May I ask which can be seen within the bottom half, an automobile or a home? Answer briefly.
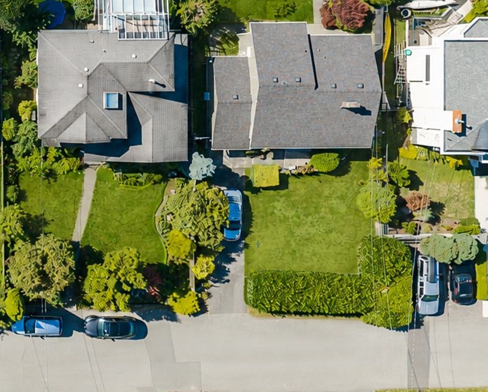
automobile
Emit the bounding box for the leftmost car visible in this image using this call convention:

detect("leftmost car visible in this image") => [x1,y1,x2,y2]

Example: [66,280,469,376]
[9,312,65,339]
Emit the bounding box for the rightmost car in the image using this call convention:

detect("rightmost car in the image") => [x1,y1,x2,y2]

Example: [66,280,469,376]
[446,260,477,314]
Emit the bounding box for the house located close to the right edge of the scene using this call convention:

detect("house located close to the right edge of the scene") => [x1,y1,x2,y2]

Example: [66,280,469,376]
[381,19,488,155]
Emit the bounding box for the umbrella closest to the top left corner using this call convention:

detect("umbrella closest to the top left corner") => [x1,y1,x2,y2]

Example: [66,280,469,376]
[36,0,65,29]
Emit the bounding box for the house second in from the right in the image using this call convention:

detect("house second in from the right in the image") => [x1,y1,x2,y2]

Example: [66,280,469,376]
[204,22,383,150]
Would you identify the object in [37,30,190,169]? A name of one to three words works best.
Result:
house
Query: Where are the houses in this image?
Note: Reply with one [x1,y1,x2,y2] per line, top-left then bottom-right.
[381,19,488,155]
[204,22,383,150]
[37,30,190,169]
